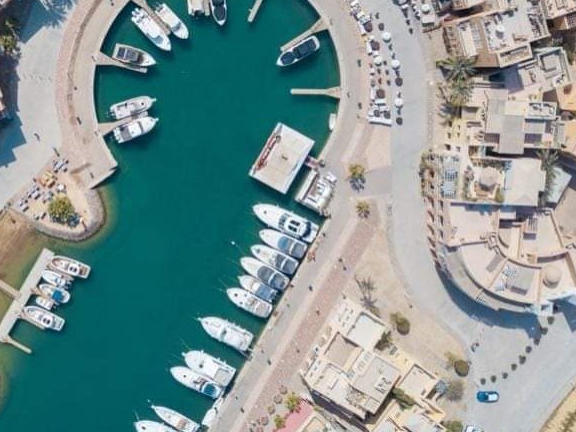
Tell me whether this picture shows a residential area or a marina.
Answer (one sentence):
This image shows a marina.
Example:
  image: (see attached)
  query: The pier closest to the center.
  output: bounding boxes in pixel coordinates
[294,169,332,214]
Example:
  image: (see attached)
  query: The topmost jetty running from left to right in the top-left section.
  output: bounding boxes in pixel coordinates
[96,51,147,73]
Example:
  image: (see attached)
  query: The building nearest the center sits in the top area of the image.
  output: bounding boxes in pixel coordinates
[250,124,314,193]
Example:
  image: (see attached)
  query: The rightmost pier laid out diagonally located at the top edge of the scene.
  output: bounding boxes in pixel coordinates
[280,17,328,51]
